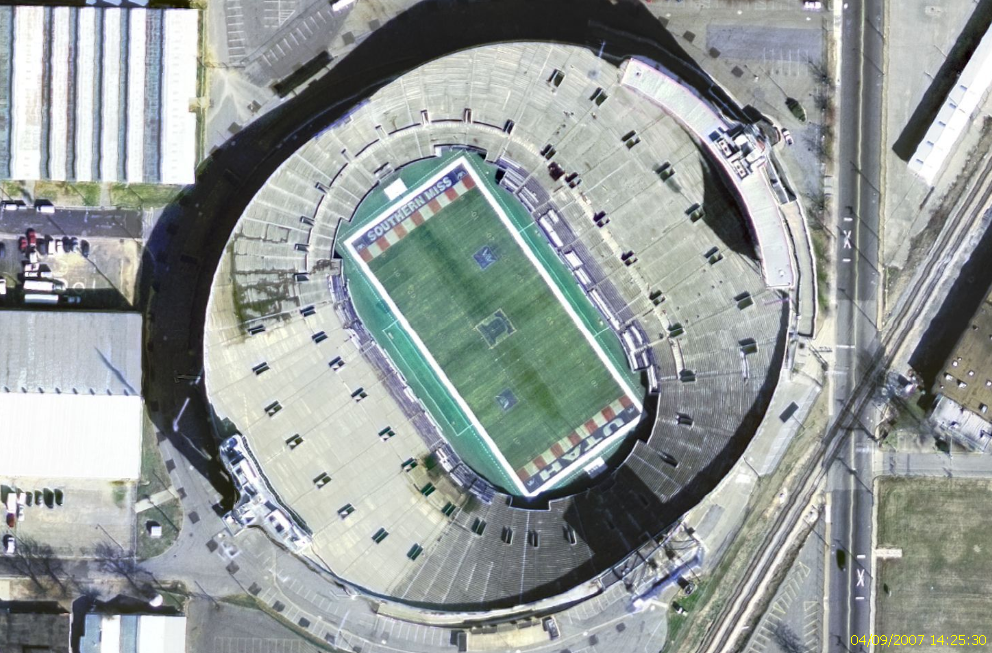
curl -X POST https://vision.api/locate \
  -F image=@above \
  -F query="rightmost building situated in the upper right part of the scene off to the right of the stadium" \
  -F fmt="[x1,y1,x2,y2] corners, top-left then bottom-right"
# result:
[908,24,992,189]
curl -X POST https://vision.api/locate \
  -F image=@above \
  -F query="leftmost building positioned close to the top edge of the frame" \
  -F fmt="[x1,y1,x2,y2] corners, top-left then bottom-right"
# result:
[0,8,199,187]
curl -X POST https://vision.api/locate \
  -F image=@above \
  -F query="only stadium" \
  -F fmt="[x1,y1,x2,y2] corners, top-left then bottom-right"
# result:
[200,38,798,626]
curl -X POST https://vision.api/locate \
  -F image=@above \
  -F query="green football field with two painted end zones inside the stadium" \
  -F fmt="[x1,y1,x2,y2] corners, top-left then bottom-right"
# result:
[333,146,658,510]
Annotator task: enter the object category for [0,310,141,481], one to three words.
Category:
warehouse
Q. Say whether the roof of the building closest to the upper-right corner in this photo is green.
No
